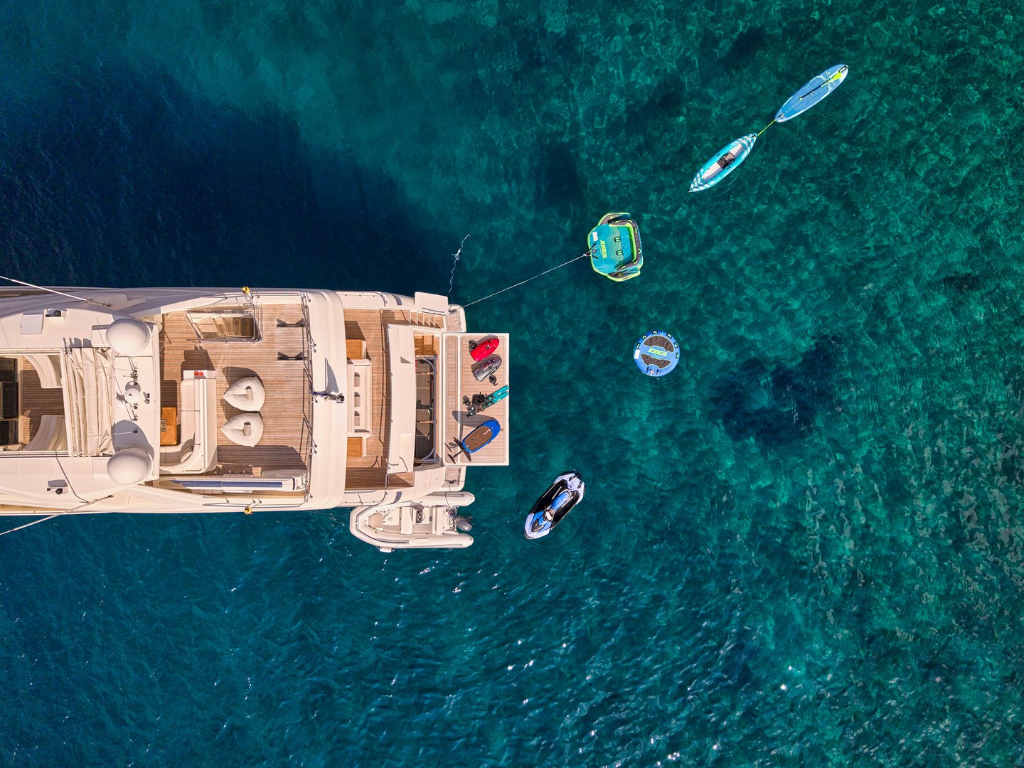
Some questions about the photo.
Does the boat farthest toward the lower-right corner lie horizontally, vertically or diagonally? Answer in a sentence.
The boat farthest toward the lower-right corner runs diagonally in the image.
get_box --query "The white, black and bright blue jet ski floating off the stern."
[524,469,585,539]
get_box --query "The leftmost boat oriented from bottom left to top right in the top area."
[689,133,757,193]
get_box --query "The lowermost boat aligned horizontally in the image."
[349,491,472,549]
